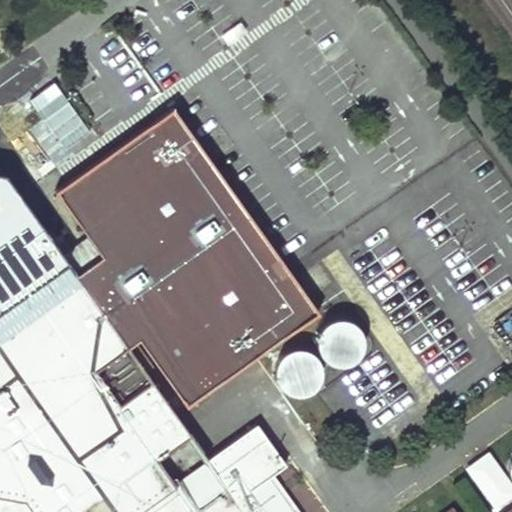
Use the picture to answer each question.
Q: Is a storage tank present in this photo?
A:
Yes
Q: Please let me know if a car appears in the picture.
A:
Yes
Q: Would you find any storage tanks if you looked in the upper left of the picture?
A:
No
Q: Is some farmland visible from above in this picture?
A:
No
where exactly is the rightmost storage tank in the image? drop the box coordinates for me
[317,320,367,370]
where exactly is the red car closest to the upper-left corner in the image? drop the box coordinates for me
[161,72,181,89]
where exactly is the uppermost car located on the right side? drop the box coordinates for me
[317,32,340,50]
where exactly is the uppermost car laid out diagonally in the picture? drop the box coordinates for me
[176,1,198,19]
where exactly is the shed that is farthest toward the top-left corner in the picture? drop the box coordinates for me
[31,84,90,157]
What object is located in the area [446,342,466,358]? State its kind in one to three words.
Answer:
car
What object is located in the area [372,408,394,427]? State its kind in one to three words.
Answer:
vehicle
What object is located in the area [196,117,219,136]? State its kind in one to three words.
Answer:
vehicle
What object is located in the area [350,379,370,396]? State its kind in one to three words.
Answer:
car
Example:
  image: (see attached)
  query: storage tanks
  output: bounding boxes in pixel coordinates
[276,350,325,400]
[317,320,367,370]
